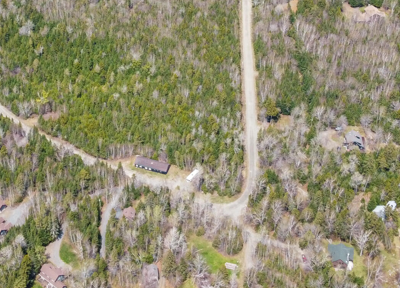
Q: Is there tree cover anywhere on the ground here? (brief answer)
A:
Yes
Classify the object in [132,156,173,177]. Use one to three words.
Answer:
building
